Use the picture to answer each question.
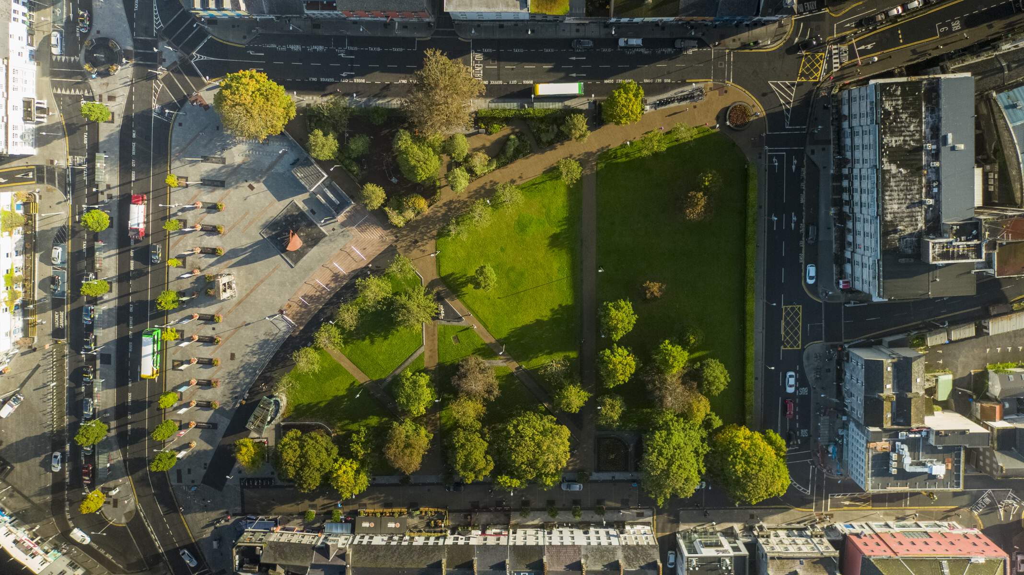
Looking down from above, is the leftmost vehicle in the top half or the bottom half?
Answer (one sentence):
Seen from above, the leftmost vehicle lies in the bottom half of the view.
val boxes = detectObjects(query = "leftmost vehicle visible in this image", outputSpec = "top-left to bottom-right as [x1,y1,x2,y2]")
[0,393,26,417]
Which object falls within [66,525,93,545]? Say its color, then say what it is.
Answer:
white vehicle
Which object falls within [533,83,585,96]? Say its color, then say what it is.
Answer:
white vehicle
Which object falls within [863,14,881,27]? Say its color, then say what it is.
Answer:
black vehicle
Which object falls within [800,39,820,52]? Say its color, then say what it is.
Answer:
black vehicle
